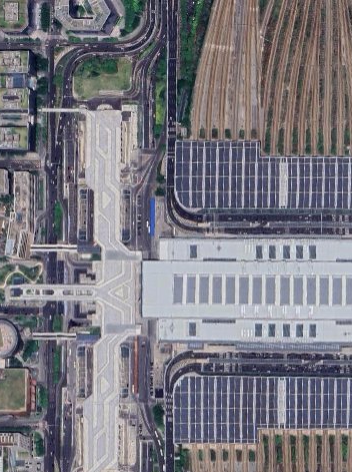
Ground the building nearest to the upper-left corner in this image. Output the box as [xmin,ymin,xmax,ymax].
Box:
[0,0,33,36]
